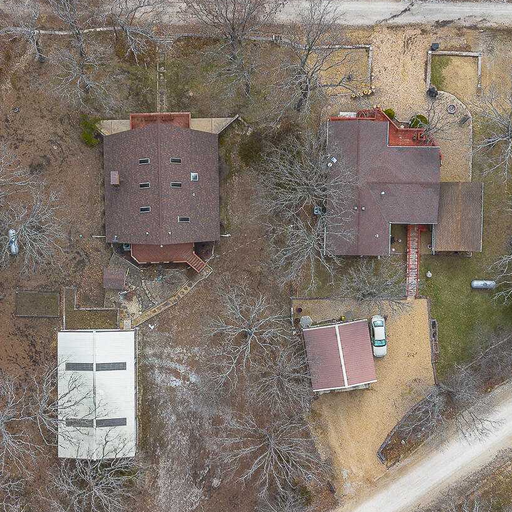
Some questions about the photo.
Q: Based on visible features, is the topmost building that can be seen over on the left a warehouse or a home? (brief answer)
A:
home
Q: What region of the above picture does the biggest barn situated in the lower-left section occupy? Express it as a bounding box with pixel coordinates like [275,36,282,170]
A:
[58,331,136,460]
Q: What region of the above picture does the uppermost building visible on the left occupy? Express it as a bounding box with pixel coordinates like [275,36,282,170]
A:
[90,123,230,245]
